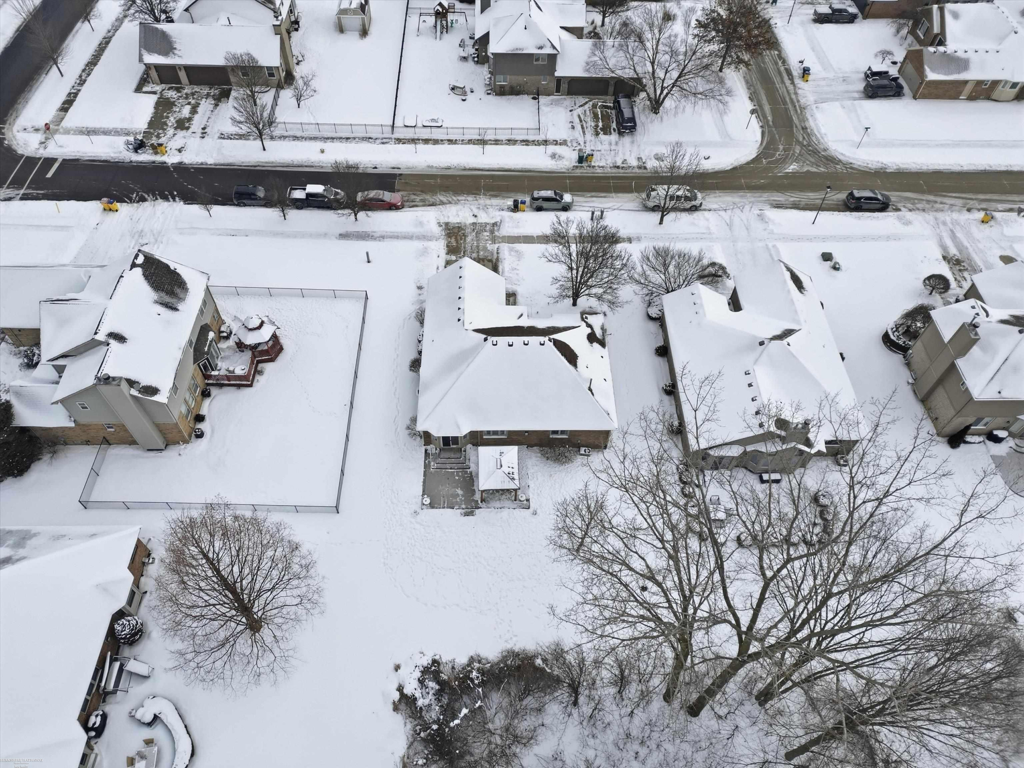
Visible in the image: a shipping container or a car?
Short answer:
car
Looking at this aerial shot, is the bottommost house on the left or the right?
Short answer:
left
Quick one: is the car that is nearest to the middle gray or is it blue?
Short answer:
gray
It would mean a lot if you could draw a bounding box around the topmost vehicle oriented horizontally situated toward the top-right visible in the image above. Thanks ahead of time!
[815,2,862,22]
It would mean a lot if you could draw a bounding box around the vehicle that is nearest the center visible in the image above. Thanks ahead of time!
[528,186,575,211]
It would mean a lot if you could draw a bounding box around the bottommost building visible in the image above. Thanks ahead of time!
[0,525,150,768]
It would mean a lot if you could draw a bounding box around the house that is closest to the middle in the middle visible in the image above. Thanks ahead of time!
[416,258,619,449]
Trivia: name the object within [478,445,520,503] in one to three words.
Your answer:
gazebo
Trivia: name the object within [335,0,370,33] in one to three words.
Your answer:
shed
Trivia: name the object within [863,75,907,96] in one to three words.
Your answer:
car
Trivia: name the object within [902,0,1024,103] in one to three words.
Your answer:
house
